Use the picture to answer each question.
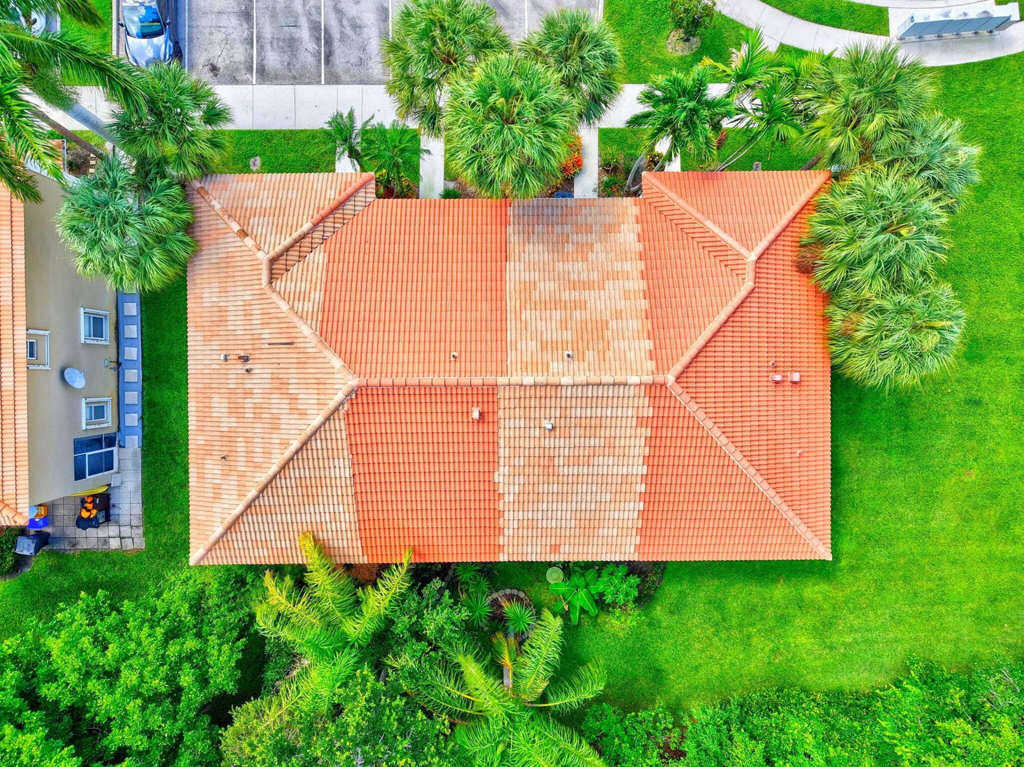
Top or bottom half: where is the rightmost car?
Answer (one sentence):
The top half of the photo is where the rightmost car is.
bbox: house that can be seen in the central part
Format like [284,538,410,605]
[186,169,834,566]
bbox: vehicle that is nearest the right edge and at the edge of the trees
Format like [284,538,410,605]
[115,0,179,67]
